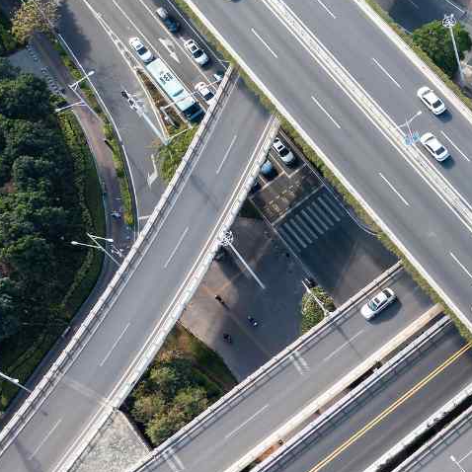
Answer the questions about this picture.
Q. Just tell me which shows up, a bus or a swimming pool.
bus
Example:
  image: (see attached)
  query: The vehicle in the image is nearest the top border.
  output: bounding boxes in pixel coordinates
[154,7,180,34]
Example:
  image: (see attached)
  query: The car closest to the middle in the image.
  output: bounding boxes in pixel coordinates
[251,182,266,200]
